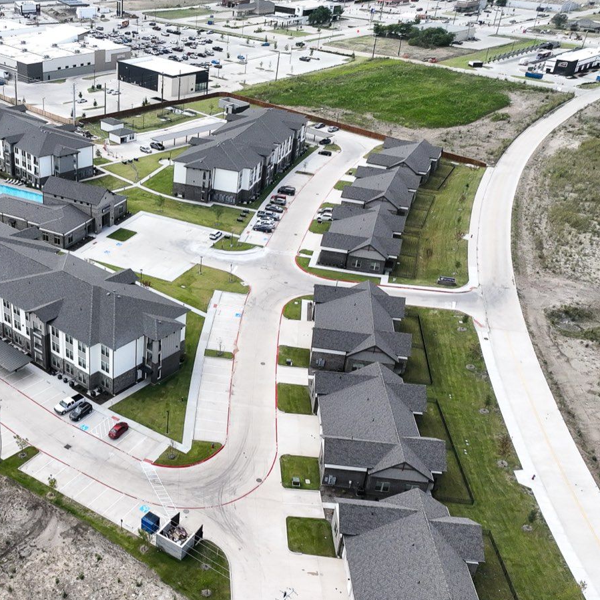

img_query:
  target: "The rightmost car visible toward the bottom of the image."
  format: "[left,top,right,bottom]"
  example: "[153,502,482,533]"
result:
[107,417,130,436]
